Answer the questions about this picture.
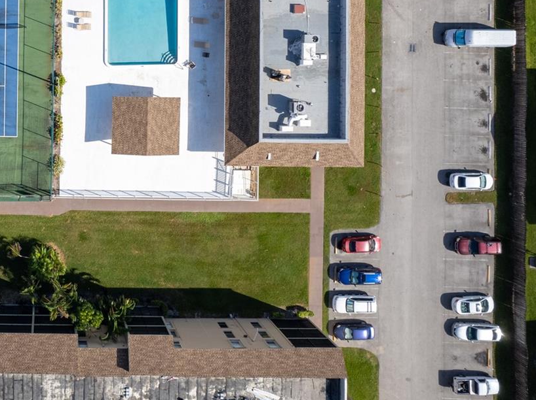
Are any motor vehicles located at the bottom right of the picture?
Yes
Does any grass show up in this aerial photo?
Yes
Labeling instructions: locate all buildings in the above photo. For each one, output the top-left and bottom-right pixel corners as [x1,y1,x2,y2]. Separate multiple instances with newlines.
[111,97,180,155]
[222,0,365,167]
[0,304,346,400]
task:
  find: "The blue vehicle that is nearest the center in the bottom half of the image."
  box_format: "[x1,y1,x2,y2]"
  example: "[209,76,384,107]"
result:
[336,266,383,287]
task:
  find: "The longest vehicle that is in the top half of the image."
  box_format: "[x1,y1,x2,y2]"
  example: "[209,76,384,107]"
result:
[440,28,515,50]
